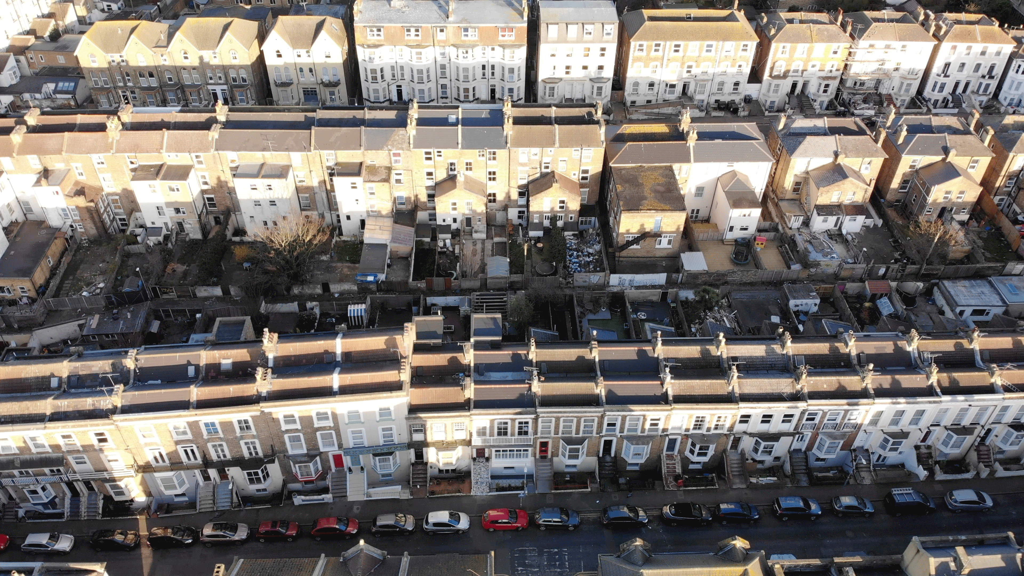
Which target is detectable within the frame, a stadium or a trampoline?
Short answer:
trampoline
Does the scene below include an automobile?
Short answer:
Yes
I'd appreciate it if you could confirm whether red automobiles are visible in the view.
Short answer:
Yes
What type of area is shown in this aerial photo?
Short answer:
residential area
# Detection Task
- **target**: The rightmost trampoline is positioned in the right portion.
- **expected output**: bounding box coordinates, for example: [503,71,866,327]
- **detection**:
[898,280,929,308]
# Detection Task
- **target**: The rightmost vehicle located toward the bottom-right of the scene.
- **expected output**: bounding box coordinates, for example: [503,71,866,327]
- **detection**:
[941,489,993,514]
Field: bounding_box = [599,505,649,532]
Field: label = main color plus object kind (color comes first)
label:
black car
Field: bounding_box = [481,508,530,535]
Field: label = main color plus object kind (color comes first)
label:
red car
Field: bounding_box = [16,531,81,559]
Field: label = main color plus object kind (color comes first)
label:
gray car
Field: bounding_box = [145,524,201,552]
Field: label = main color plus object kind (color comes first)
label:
black car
